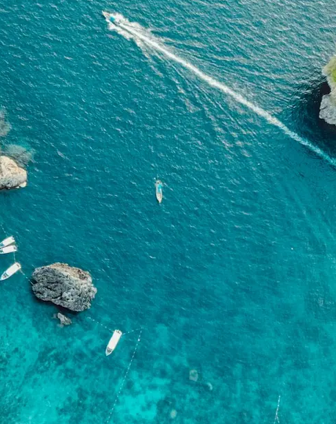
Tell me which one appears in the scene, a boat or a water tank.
boat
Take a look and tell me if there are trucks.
No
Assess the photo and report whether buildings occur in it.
No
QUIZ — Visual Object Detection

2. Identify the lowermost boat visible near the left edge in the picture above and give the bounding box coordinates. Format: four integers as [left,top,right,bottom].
[0,261,22,279]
